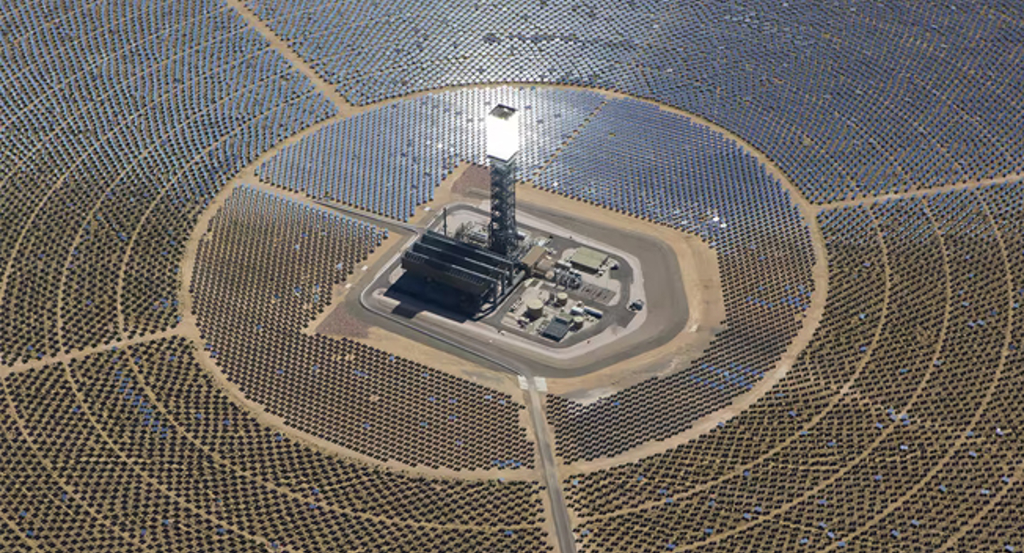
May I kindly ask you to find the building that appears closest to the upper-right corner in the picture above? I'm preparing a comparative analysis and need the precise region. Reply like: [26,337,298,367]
[570,247,608,277]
